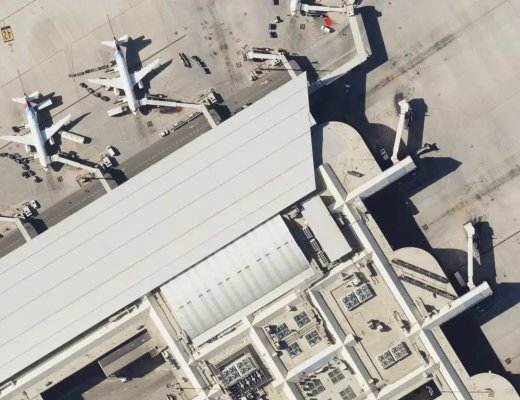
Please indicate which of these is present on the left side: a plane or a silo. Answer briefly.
plane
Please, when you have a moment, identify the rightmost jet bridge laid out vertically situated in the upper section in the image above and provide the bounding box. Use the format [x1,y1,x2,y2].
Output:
[391,96,410,164]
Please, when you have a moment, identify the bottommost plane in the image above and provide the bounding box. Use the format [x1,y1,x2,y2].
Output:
[0,92,69,172]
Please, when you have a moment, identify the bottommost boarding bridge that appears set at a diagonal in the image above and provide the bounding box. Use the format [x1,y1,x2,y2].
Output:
[0,213,32,243]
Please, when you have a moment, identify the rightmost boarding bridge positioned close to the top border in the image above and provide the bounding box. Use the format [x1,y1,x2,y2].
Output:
[299,0,372,94]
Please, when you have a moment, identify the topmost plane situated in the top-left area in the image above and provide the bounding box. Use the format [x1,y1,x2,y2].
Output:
[88,36,158,115]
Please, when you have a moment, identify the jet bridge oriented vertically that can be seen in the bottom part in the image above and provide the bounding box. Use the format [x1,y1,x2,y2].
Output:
[463,220,476,288]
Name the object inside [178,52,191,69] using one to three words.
vehicle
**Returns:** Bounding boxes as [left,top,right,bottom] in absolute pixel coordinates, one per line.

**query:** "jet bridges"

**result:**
[137,98,218,128]
[391,96,410,164]
[50,154,113,193]
[463,220,476,288]
[299,0,372,94]
[0,213,32,243]
[243,51,297,80]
